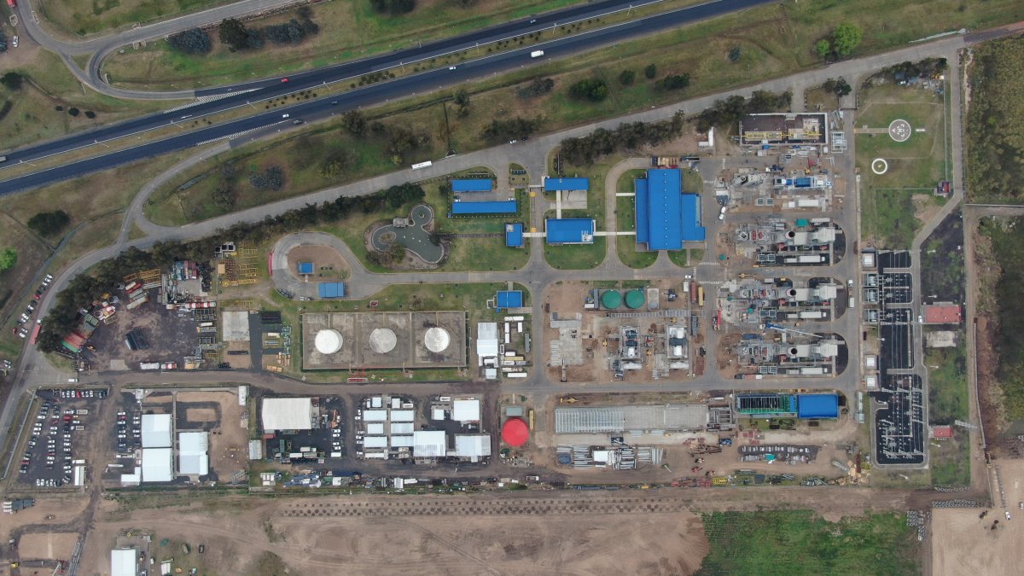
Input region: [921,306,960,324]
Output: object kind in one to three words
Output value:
house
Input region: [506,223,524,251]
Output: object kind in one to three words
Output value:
building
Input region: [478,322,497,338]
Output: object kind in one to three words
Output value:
building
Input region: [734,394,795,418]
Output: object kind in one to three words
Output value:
shed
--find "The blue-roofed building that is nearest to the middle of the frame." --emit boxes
[496,291,522,308]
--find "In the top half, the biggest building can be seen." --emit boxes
[634,169,705,251]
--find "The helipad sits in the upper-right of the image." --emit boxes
[889,119,910,141]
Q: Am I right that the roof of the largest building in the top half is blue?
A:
Yes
